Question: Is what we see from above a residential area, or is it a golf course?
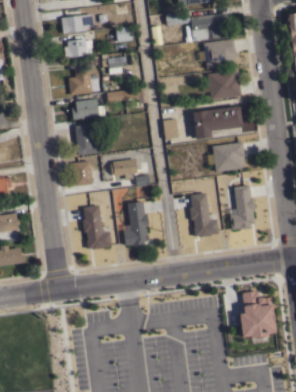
residential area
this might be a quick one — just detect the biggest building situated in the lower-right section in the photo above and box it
[242,290,279,344]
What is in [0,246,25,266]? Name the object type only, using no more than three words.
house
